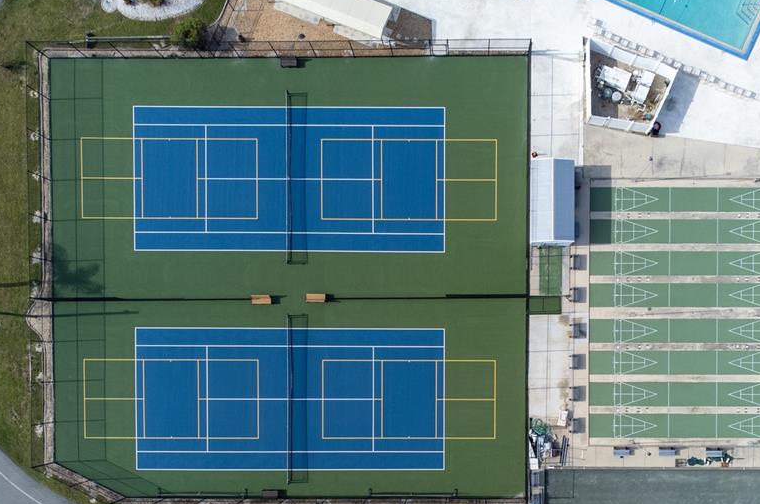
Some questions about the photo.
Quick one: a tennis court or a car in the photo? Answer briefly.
tennis court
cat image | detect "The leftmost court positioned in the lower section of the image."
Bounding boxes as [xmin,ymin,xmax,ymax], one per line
[52,297,526,500]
